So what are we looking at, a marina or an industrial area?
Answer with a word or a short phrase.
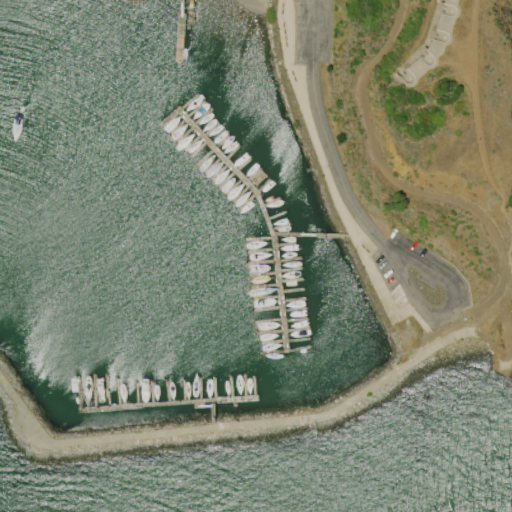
marina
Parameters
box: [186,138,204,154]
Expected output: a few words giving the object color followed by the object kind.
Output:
white boat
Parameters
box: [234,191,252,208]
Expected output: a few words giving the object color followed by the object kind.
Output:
white boat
